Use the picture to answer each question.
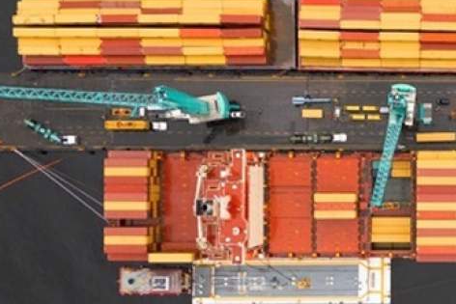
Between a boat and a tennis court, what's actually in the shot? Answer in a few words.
boat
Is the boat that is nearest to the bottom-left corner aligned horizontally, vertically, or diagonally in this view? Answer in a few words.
horizontally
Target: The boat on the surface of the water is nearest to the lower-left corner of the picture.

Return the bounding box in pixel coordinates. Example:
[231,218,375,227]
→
[120,266,188,295]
